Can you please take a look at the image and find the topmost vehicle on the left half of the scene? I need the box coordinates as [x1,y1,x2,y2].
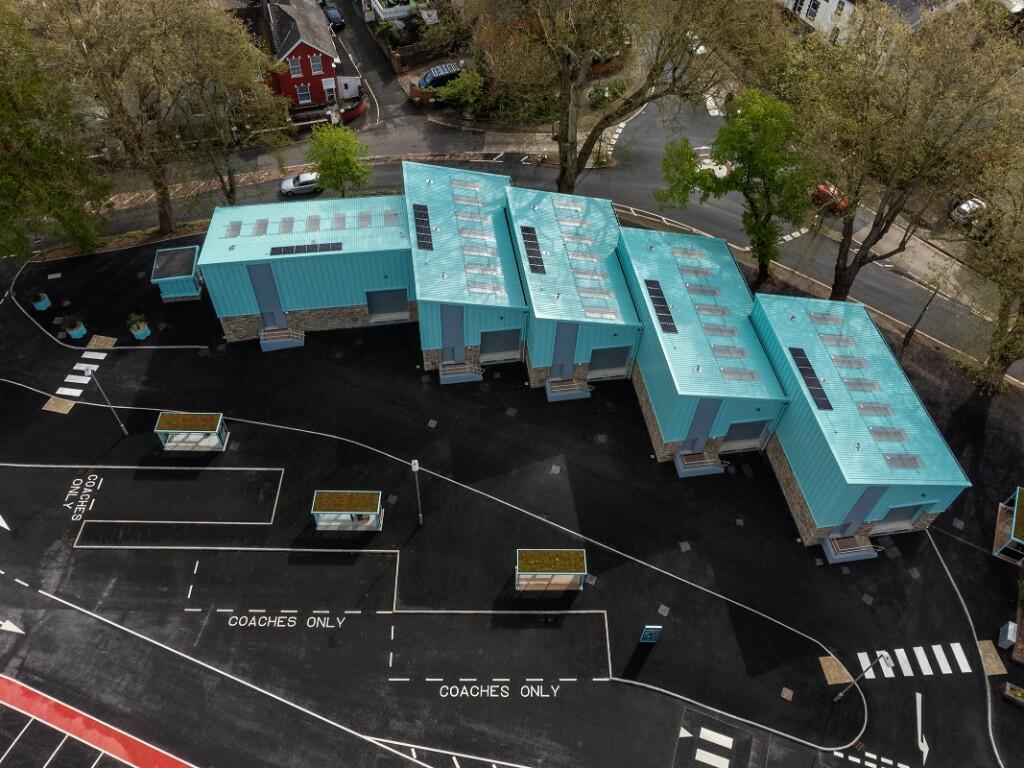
[319,0,348,24]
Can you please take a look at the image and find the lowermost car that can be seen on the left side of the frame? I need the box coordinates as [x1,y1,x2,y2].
[278,171,325,198]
